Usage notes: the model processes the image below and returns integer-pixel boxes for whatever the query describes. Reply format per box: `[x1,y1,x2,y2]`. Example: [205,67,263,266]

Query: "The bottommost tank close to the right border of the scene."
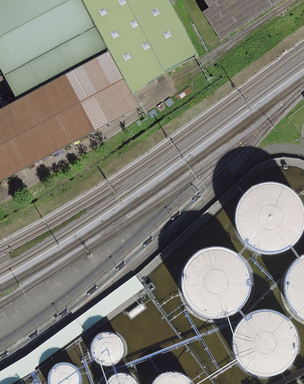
[232,308,304,380]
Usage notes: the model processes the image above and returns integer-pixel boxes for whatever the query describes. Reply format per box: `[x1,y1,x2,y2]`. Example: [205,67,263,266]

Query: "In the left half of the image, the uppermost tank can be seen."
[89,330,128,368]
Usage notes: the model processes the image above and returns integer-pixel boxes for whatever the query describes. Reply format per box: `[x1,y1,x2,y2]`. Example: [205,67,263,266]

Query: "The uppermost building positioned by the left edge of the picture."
[0,0,108,98]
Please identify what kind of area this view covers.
industrial area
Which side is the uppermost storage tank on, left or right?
right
